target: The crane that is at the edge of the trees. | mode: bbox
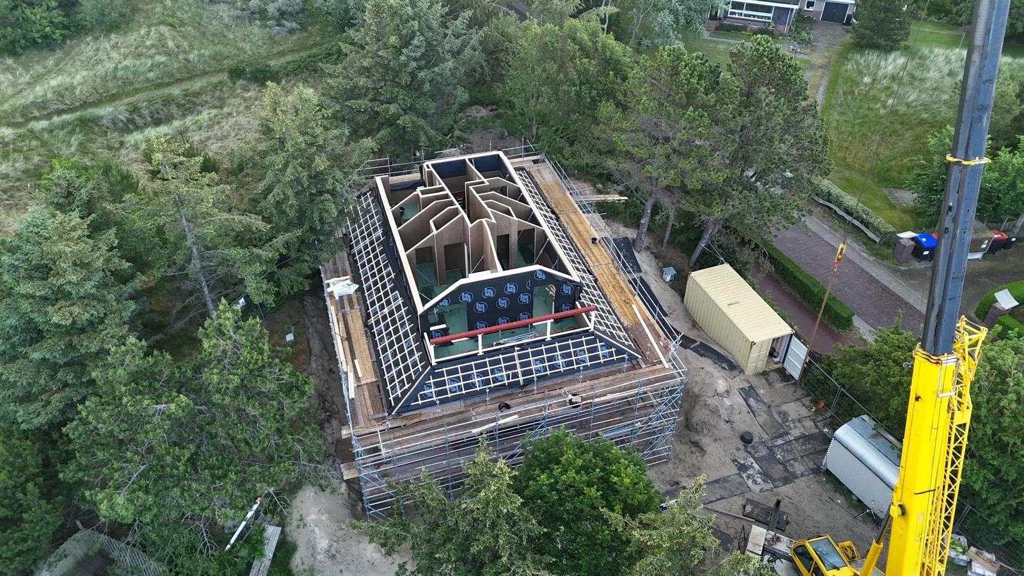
[756,0,1009,576]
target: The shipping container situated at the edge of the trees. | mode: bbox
[684,262,806,377]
